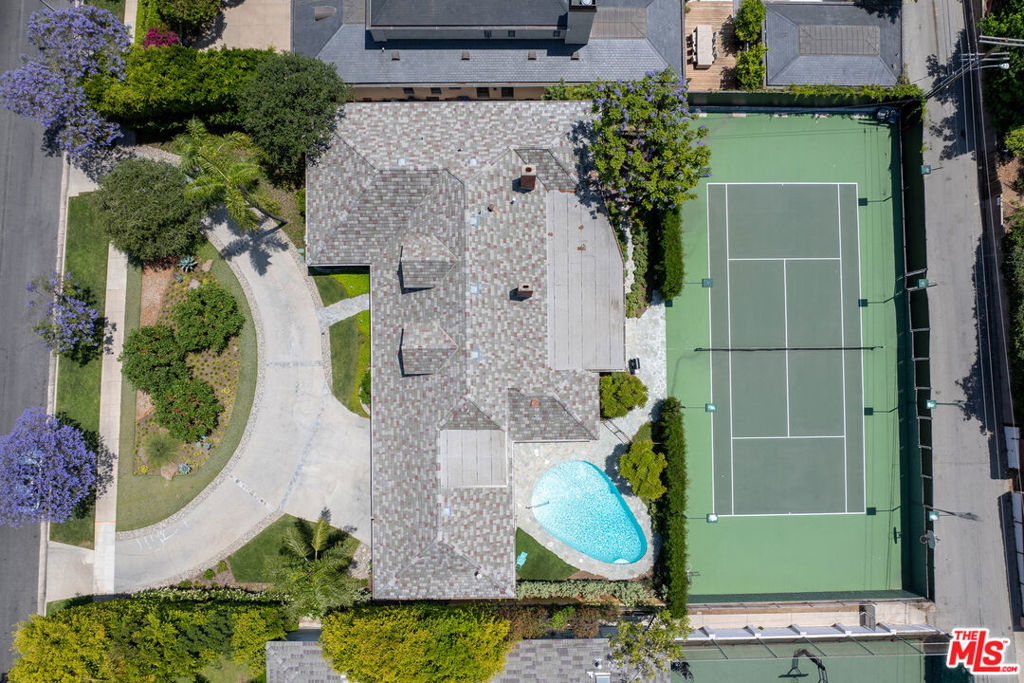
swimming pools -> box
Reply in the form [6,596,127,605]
[527,455,651,568]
